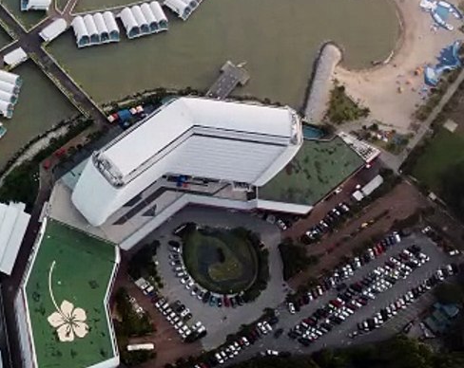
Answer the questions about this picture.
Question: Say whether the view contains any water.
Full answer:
Yes, there is water in the image.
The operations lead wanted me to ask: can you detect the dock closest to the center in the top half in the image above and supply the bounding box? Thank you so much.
[207,60,249,100]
